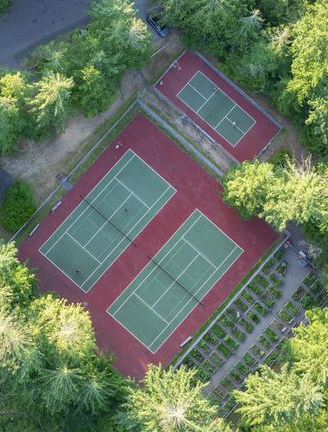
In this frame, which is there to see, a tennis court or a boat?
tennis court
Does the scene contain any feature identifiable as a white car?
No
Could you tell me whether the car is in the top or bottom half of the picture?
top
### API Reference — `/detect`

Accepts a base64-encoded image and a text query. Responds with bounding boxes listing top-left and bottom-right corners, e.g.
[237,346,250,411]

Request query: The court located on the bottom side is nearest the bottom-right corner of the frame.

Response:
[86,173,281,376]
